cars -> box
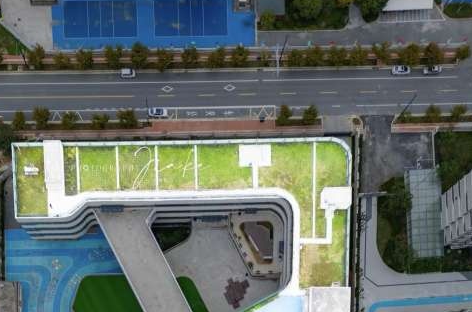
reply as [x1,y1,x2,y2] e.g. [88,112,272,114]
[149,109,166,117]
[120,69,137,78]
[422,66,440,75]
[392,66,409,75]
